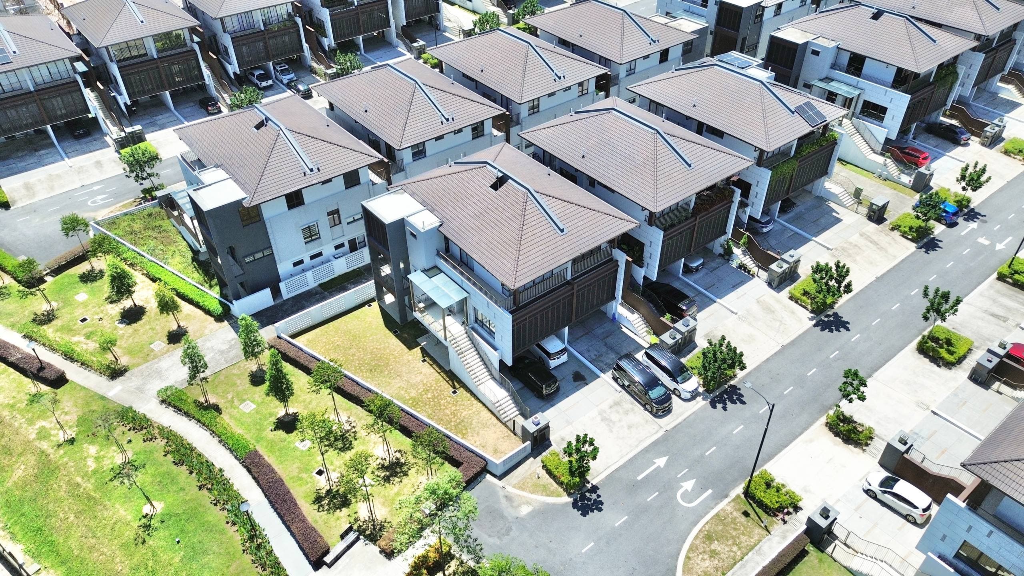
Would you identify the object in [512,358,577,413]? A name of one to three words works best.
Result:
car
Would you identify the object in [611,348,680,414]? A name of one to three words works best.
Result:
car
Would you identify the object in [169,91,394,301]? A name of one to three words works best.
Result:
house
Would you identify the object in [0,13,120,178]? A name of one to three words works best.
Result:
house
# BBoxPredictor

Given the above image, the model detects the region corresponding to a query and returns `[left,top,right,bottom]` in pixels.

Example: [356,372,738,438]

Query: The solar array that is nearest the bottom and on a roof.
[785,86,826,117]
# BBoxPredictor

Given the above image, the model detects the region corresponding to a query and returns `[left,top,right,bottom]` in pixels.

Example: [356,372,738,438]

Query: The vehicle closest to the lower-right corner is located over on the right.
[859,468,941,528]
